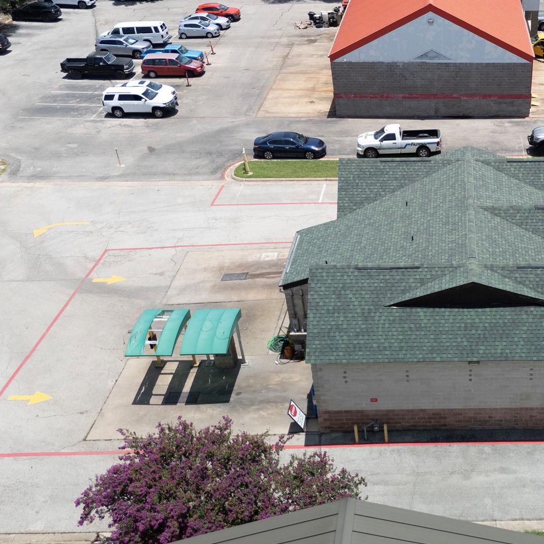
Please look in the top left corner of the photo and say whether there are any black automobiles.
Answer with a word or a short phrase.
Yes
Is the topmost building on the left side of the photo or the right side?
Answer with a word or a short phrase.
right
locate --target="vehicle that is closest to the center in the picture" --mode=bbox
[249,129,327,158]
